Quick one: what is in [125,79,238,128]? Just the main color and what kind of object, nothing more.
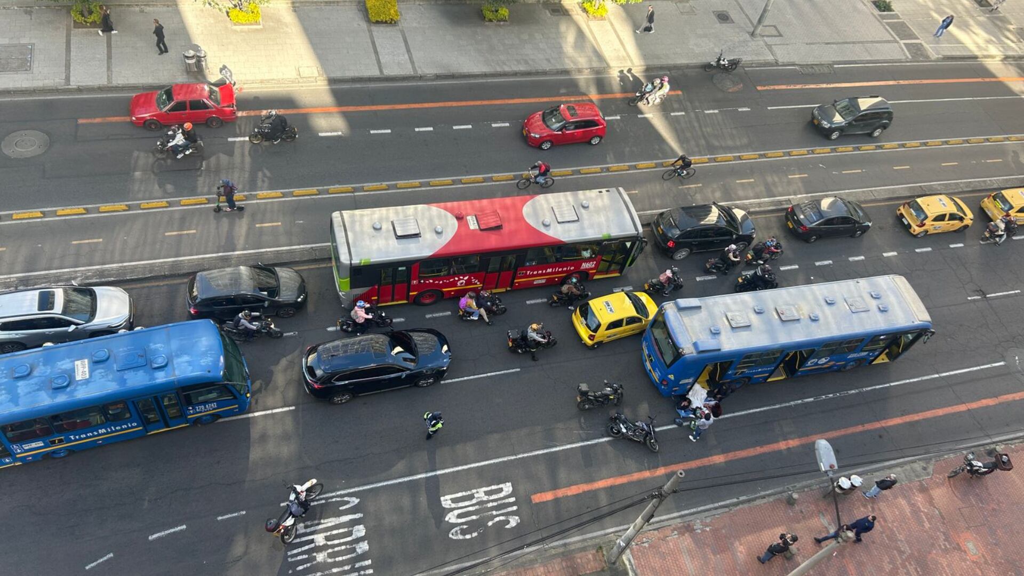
red car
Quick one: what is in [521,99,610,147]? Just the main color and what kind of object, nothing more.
red car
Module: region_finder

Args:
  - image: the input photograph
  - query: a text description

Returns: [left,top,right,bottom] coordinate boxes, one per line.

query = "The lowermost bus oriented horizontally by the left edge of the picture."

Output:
[0,322,251,468]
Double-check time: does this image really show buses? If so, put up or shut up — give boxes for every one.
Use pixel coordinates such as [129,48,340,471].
[639,279,932,399]
[333,189,641,311]
[0,322,251,468]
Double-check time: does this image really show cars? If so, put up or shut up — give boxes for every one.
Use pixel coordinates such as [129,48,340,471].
[568,285,662,349]
[295,318,454,403]
[521,99,610,147]
[780,190,878,241]
[178,259,309,325]
[125,79,238,128]
[899,188,977,235]
[809,89,895,137]
[0,273,138,355]
[648,202,753,259]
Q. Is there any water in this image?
No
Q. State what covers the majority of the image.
paved ground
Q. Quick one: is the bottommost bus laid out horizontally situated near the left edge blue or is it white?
blue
